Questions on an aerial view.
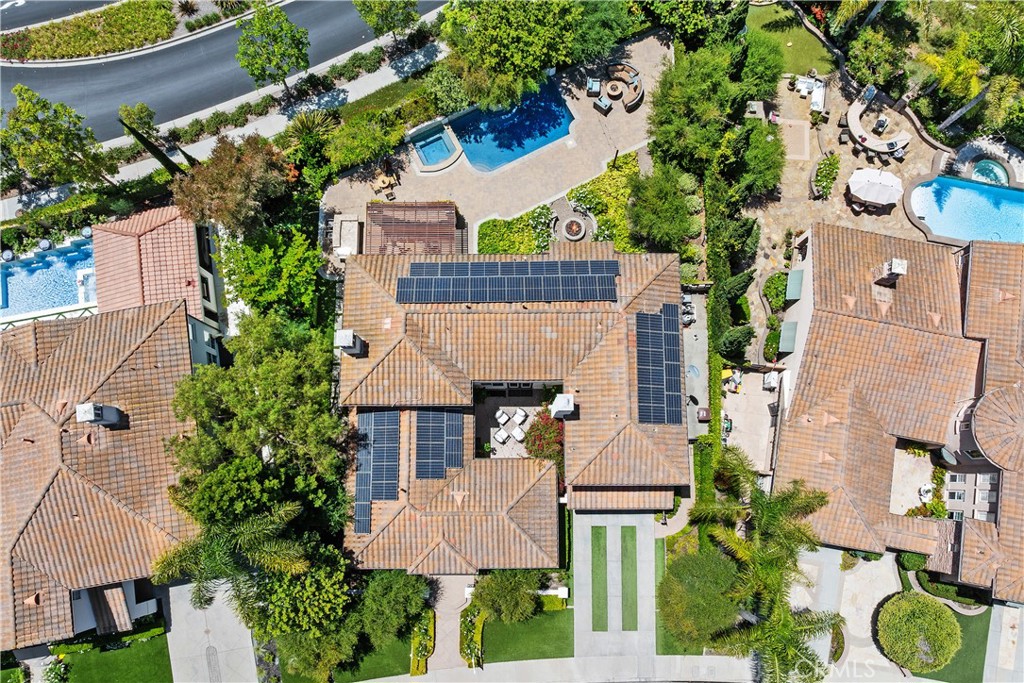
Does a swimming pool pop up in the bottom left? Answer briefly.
No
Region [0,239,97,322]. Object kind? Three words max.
swimming pool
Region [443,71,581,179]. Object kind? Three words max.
swimming pool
